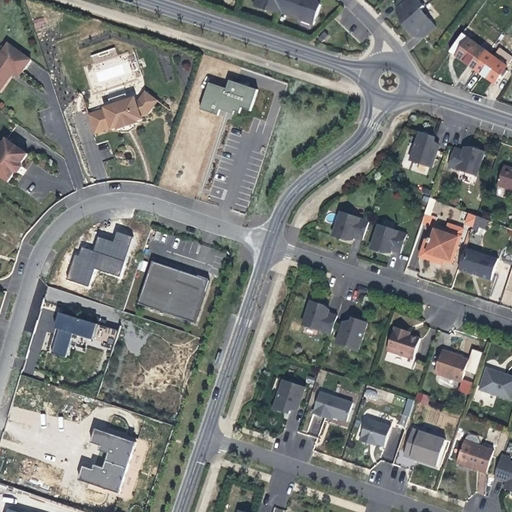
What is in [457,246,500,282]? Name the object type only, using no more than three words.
house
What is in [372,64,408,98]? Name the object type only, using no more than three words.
roundabout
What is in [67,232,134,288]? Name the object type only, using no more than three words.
building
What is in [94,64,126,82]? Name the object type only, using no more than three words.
swimming pool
